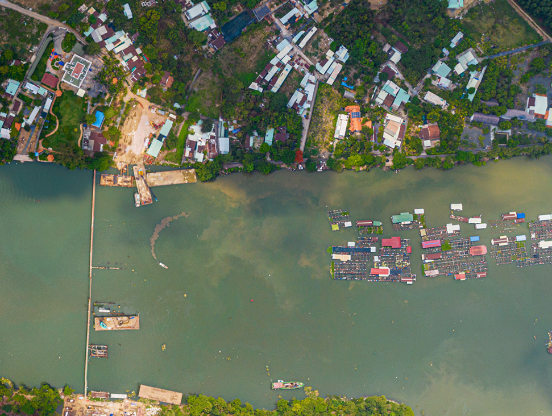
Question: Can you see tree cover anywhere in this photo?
Yes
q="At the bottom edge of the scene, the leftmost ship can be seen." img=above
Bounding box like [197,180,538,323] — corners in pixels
[139,385,182,404]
